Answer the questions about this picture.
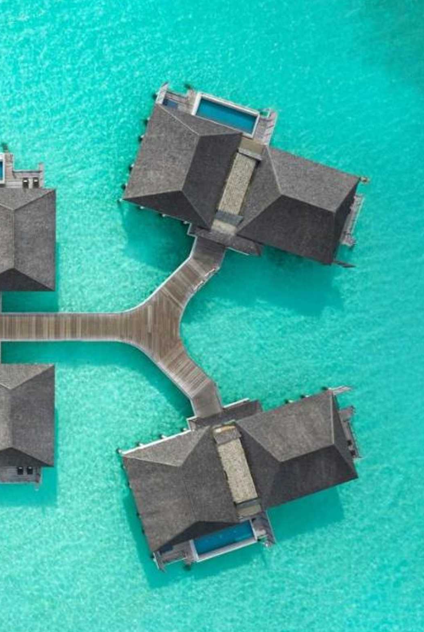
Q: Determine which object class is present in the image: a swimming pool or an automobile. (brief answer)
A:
swimming pool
